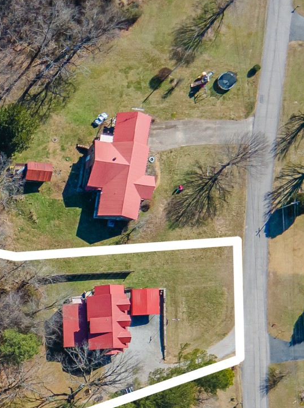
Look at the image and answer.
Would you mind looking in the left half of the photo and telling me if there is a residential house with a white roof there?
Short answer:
No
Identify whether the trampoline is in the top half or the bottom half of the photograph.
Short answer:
top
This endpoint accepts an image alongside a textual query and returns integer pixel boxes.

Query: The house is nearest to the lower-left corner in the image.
[59,285,131,355]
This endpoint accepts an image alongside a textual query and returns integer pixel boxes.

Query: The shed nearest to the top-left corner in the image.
[24,163,54,184]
